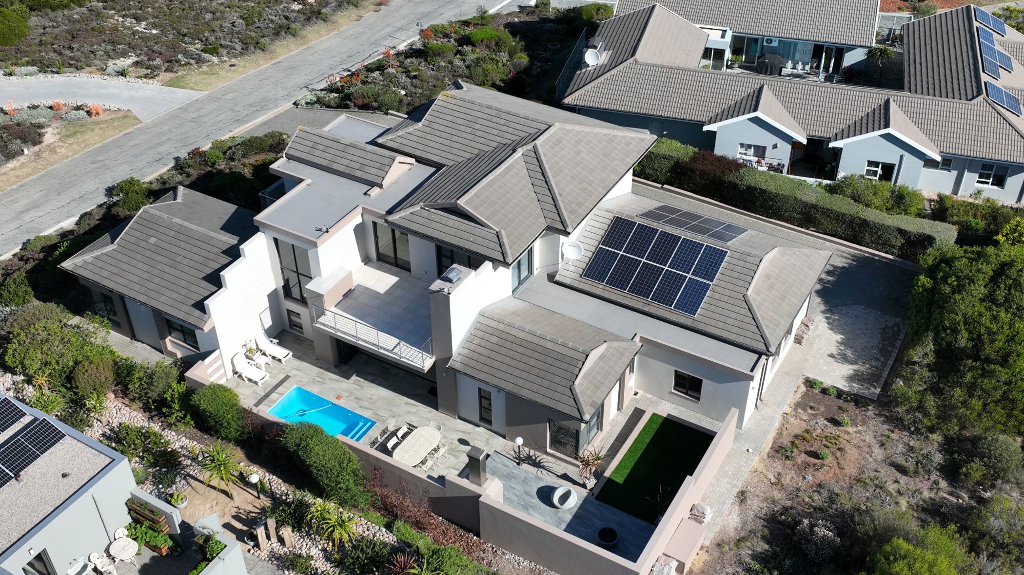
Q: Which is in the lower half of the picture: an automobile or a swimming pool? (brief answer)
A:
swimming pool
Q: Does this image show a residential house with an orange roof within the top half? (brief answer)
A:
No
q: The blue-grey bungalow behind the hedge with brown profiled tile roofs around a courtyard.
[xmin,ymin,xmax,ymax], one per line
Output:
[562,0,1024,202]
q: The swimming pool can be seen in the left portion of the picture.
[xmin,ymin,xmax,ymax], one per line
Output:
[268,385,378,443]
